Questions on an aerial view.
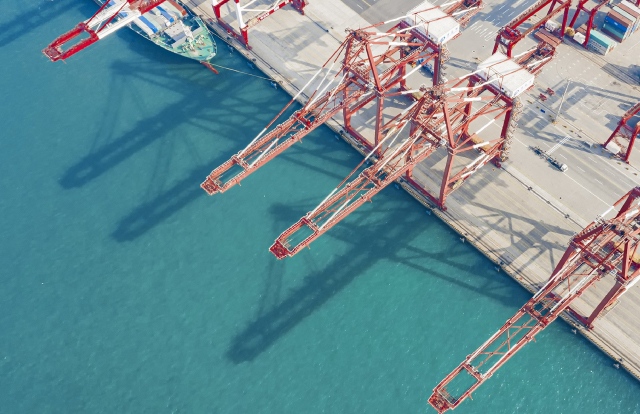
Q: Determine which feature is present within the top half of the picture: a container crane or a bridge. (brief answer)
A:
container crane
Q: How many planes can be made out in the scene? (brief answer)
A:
0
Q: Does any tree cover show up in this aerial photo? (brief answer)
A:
No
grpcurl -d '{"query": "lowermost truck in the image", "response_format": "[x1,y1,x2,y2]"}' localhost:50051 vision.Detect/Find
[528,141,564,169]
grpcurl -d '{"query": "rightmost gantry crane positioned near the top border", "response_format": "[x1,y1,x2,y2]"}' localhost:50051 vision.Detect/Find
[563,0,611,48]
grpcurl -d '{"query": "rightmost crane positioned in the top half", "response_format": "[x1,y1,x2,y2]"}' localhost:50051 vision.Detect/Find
[601,92,640,164]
